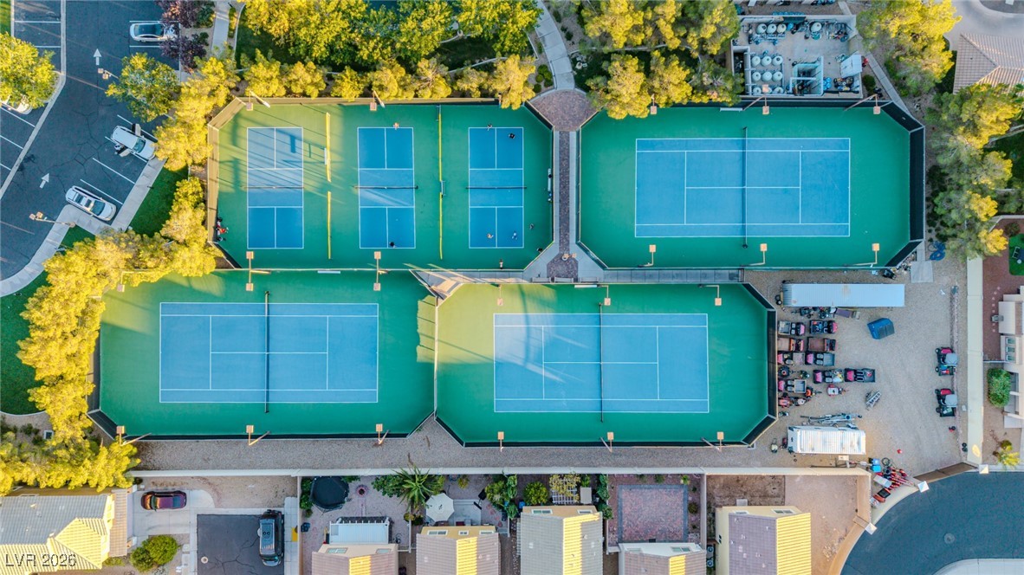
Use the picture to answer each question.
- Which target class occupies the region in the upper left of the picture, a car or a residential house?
car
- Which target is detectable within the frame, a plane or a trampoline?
trampoline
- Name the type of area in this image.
sports ground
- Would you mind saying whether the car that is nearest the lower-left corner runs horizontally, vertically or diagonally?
horizontally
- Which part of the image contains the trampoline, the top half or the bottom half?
bottom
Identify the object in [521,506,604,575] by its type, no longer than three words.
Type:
house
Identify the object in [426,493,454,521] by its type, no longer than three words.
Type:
umbrella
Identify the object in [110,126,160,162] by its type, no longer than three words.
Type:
car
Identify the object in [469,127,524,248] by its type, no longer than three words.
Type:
sports court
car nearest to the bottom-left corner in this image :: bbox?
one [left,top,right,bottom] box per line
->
[143,489,188,511]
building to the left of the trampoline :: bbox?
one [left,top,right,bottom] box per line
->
[0,488,134,572]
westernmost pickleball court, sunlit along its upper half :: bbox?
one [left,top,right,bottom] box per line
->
[247,128,304,249]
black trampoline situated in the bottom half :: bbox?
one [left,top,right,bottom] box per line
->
[309,476,350,514]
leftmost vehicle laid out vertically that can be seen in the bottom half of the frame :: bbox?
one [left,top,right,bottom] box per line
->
[261,507,284,561]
